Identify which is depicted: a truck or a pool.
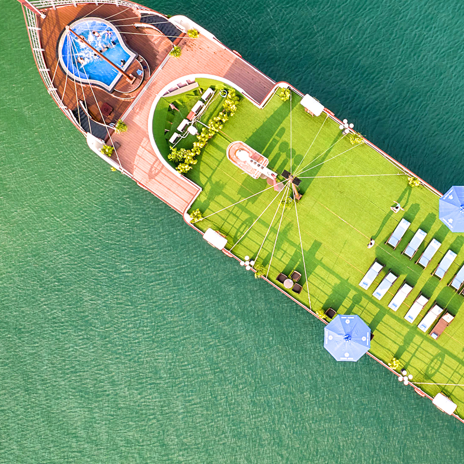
pool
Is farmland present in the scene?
No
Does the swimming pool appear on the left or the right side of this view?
left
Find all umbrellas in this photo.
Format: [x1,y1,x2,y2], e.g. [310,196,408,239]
[325,316,372,362]
[439,187,464,233]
